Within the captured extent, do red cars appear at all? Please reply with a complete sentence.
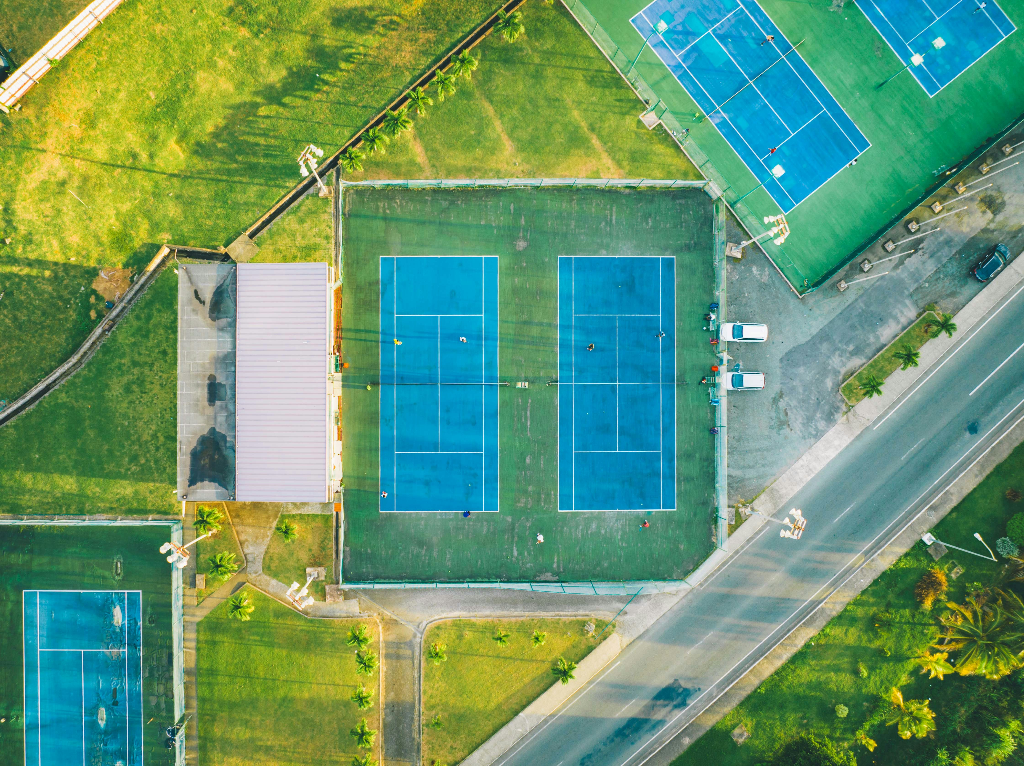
No, the picture doesn't show any red car.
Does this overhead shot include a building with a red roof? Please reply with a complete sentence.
No, I can see no building with a red roof in this picture.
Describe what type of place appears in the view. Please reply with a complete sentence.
The picture captures a sports ground.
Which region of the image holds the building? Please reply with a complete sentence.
Look in the left portion of the view to spot the building.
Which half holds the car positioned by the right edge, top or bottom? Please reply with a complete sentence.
Seen from above, the car positioned by the right edge lies in the top half of the view.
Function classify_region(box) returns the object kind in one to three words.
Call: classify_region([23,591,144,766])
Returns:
tennis court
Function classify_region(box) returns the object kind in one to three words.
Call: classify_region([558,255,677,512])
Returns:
tennis court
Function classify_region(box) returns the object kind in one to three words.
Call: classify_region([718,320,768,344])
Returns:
car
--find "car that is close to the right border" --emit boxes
[967,239,1011,286]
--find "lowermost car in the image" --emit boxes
[720,369,767,393]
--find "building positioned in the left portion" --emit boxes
[173,262,334,515]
